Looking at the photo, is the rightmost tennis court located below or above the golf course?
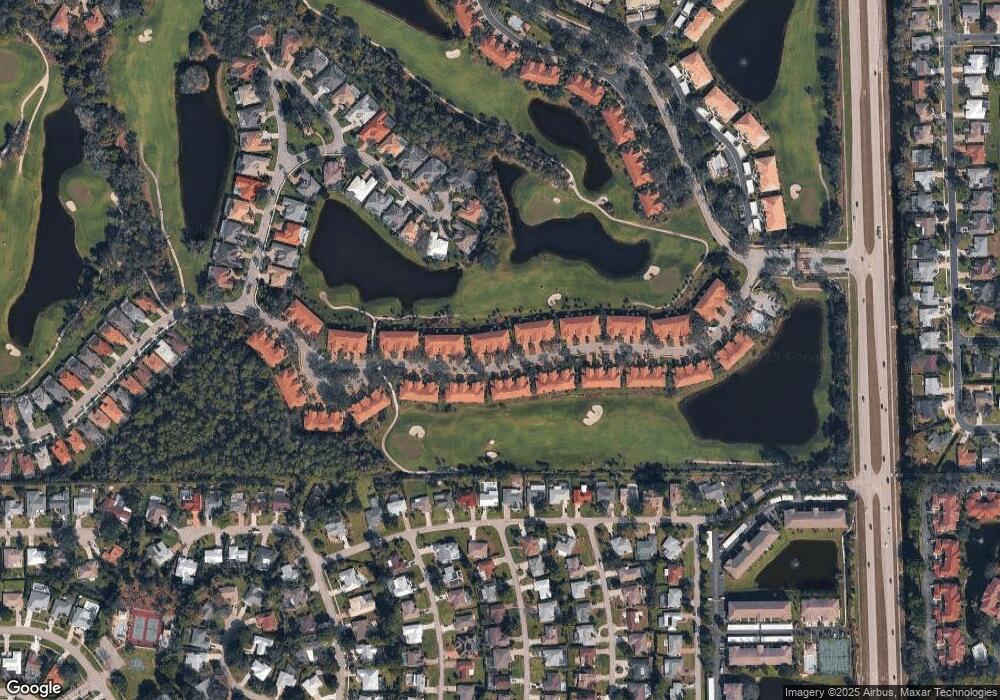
below it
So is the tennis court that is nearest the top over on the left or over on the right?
left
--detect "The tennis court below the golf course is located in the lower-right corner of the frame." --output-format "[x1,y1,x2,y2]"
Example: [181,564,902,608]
[819,638,851,676]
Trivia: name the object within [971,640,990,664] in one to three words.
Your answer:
shed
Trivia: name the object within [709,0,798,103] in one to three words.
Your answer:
pond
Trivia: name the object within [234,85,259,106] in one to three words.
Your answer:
house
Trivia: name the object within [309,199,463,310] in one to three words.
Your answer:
pond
